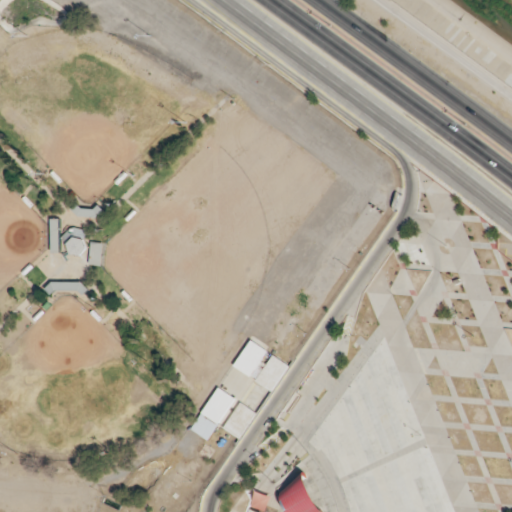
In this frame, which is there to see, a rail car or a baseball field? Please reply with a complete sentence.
Of the two, only a baseball field appears.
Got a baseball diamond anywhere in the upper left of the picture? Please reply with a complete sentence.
Yes, a baseball diamond can be seen in the upper left of the picture.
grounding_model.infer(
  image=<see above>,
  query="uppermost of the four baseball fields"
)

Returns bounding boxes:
[0,32,190,206]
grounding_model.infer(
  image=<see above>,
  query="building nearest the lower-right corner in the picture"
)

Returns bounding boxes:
[280,472,328,512]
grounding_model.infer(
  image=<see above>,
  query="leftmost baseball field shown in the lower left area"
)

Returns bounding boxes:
[0,295,162,454]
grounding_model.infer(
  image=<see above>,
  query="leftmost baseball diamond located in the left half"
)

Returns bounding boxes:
[0,188,46,287]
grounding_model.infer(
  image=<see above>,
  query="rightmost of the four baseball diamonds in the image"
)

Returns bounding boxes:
[104,106,332,380]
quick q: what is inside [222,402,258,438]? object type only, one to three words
building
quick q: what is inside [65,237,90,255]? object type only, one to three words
building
